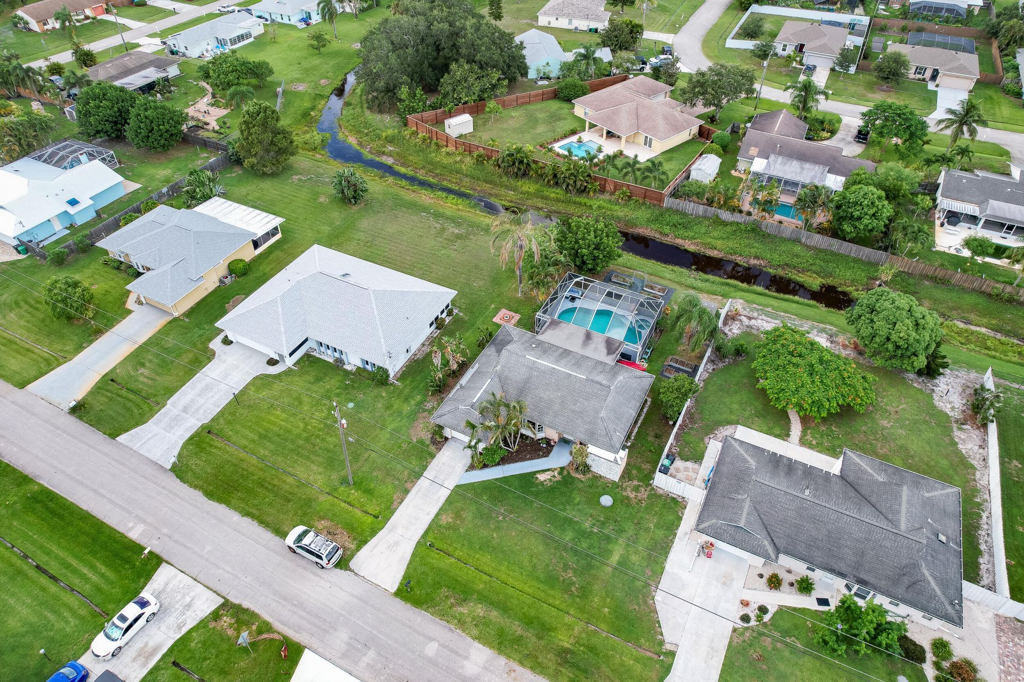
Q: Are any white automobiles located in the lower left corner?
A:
Yes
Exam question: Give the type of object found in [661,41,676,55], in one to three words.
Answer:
car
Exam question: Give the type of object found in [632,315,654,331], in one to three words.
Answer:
swimming pool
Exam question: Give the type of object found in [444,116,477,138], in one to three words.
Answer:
shed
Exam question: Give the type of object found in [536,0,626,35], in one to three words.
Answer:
house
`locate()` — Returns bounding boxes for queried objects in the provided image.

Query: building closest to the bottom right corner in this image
[689,435,965,637]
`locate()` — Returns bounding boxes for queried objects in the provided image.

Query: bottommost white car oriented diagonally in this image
[86,590,161,664]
